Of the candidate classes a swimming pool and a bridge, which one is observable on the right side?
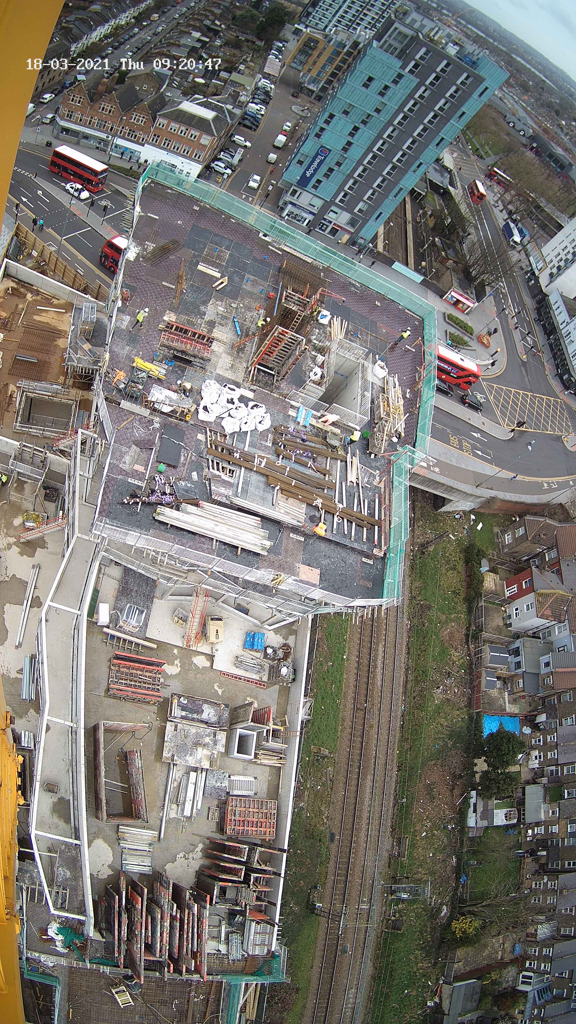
bridge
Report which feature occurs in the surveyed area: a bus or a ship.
bus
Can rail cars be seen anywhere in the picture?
No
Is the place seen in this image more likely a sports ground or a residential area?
residential area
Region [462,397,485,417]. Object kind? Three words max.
car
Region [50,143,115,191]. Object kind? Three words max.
bus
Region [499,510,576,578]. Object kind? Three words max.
house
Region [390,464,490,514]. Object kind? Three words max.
bridge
